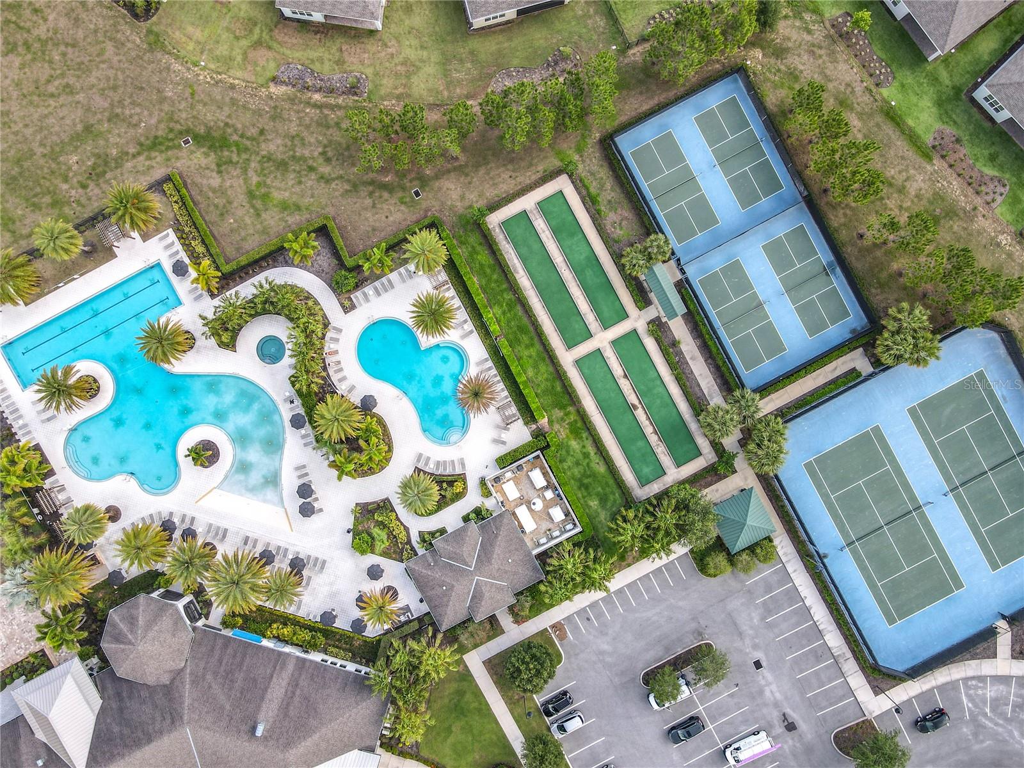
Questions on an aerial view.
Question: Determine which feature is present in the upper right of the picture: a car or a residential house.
residential house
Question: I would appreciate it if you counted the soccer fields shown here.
0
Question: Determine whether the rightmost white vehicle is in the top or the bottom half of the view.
bottom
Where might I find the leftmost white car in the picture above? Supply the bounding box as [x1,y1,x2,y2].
[548,709,585,736]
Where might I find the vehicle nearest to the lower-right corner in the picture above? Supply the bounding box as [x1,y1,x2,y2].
[913,708,950,731]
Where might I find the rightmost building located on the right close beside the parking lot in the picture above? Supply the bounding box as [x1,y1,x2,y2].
[711,486,776,555]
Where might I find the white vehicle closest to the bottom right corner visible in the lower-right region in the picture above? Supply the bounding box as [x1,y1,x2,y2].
[724,730,776,768]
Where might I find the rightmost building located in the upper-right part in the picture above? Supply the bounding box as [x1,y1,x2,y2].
[972,49,1024,153]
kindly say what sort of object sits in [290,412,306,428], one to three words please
umbrella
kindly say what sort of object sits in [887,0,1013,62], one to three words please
house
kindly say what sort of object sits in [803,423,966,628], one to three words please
tennis court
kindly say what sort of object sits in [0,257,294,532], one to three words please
swimming pool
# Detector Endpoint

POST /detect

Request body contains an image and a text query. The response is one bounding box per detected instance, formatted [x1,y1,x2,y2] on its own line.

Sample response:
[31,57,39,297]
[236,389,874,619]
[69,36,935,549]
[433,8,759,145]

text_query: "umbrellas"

[298,501,316,518]
[290,555,306,571]
[367,563,384,580]
[173,260,191,277]
[360,394,376,411]
[161,518,180,535]
[182,526,200,542]
[353,593,369,610]
[260,549,276,565]
[320,609,336,626]
[297,482,314,499]
[351,617,367,633]
[290,412,306,428]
